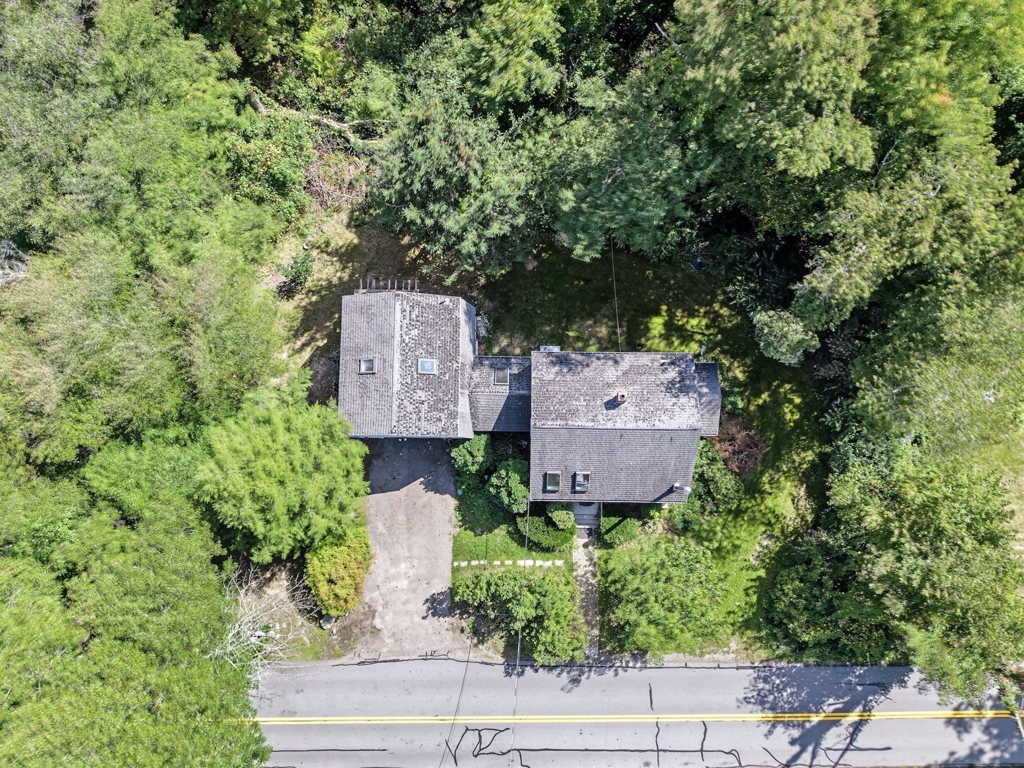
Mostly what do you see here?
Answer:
trees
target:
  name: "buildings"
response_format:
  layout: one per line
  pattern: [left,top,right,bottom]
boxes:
[338,291,478,441]
[528,350,721,504]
